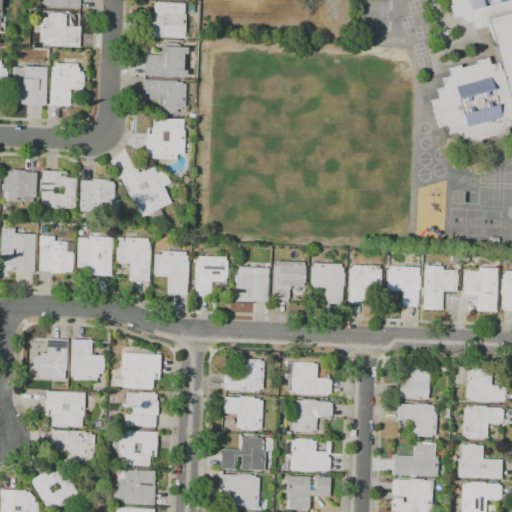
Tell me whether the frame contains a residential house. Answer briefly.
Yes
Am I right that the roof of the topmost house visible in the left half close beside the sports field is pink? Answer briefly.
No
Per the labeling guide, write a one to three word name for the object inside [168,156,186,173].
swimming pool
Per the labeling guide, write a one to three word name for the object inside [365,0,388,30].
sports court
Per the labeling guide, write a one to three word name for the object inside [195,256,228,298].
house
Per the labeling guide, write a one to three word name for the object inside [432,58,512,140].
building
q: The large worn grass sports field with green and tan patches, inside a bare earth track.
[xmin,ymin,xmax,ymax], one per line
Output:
[205,46,413,240]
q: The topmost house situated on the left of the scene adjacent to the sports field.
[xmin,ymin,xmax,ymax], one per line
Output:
[154,2,187,38]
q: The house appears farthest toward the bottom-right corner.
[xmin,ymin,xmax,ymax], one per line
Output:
[462,483,503,512]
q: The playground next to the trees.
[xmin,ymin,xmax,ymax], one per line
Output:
[416,180,447,238]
